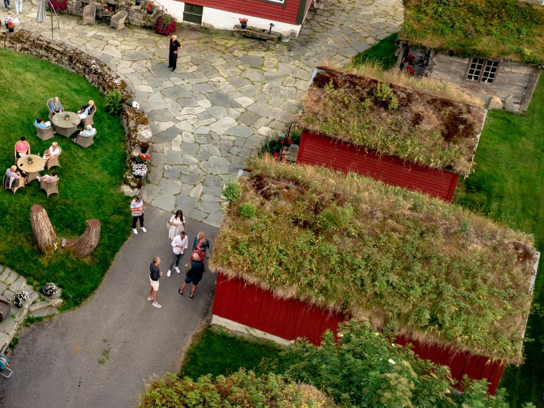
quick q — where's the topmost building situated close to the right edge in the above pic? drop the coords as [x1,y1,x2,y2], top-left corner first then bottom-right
[391,0,544,110]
